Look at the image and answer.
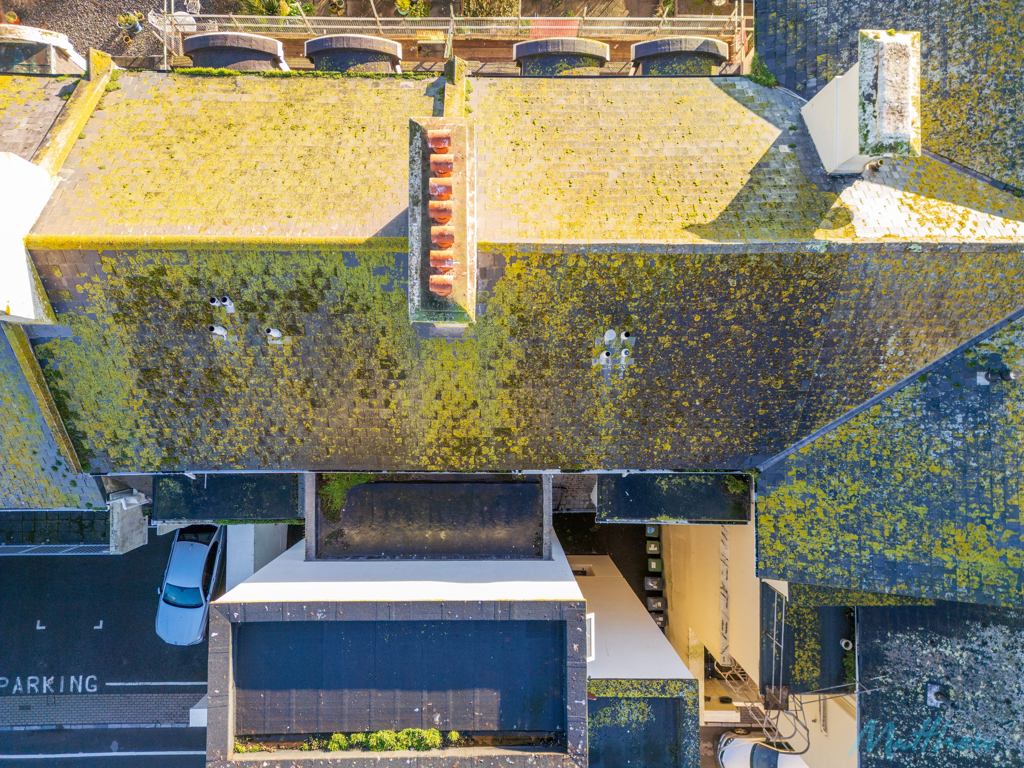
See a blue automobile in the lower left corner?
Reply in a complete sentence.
Yes, I can see a blue automobile in the lower left corner.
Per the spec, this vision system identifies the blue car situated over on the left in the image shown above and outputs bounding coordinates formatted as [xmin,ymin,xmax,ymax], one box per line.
[151,525,227,641]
